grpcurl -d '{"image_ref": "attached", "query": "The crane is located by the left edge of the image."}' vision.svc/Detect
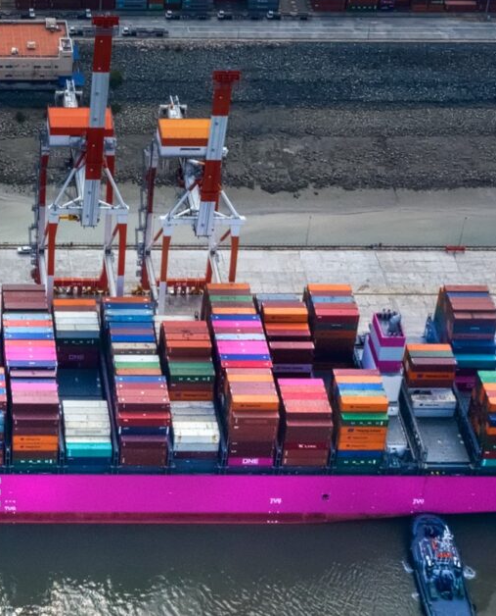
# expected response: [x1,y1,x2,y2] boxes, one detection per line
[24,13,127,329]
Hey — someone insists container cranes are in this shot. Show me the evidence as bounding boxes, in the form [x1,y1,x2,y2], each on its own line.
[24,13,127,329]
[130,69,245,316]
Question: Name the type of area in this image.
port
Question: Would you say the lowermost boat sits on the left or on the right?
right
